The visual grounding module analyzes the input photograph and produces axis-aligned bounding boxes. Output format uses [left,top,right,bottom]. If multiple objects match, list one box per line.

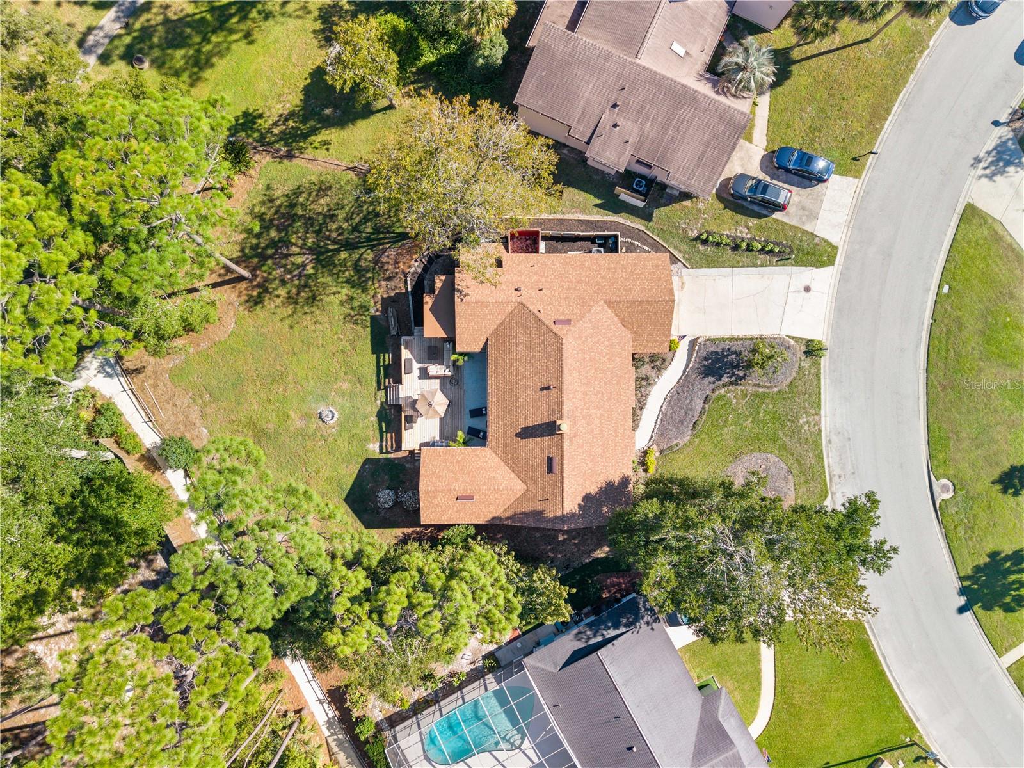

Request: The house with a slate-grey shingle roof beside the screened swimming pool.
[521,592,769,768]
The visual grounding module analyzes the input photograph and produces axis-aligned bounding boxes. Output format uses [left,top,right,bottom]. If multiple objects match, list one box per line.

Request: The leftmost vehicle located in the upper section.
[730,175,801,214]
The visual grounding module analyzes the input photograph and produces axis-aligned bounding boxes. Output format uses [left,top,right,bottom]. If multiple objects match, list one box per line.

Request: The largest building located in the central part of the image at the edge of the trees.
[418,244,676,530]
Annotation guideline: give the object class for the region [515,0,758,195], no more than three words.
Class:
house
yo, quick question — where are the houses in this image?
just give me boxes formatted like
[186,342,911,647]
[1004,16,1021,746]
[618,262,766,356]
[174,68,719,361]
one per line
[418,244,676,530]
[515,0,758,195]
[521,592,769,768]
